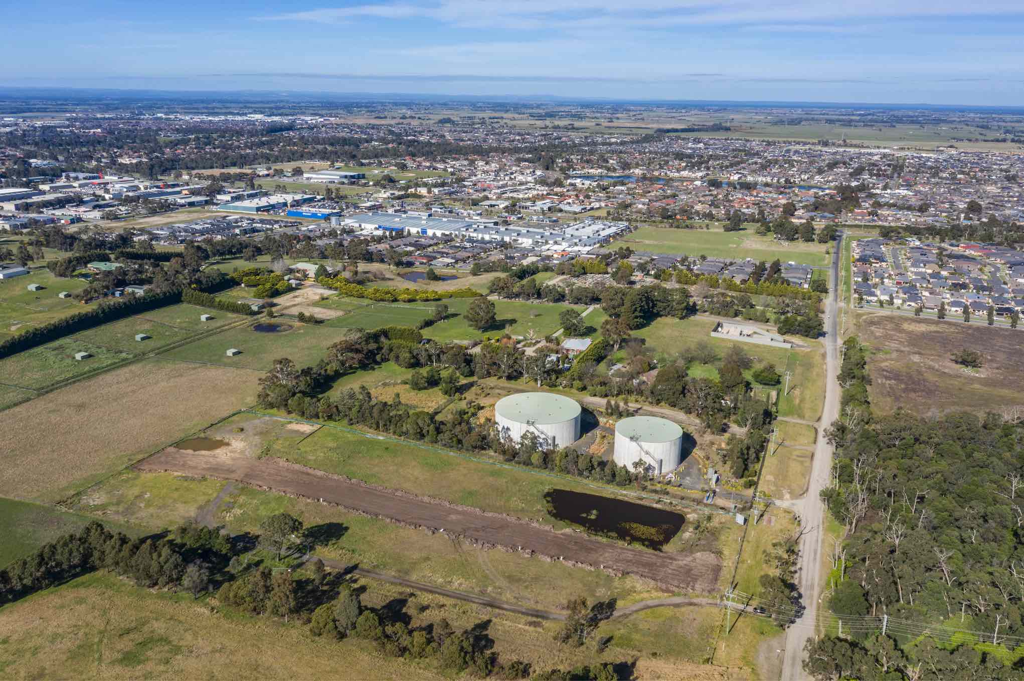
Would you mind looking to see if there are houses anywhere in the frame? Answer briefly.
Yes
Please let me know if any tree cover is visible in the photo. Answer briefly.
Yes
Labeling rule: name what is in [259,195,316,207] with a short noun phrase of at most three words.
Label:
building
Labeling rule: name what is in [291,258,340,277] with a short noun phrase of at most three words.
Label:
house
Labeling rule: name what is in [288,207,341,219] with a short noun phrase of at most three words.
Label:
building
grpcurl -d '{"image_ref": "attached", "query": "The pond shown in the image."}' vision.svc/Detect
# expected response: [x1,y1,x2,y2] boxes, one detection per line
[546,489,685,552]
